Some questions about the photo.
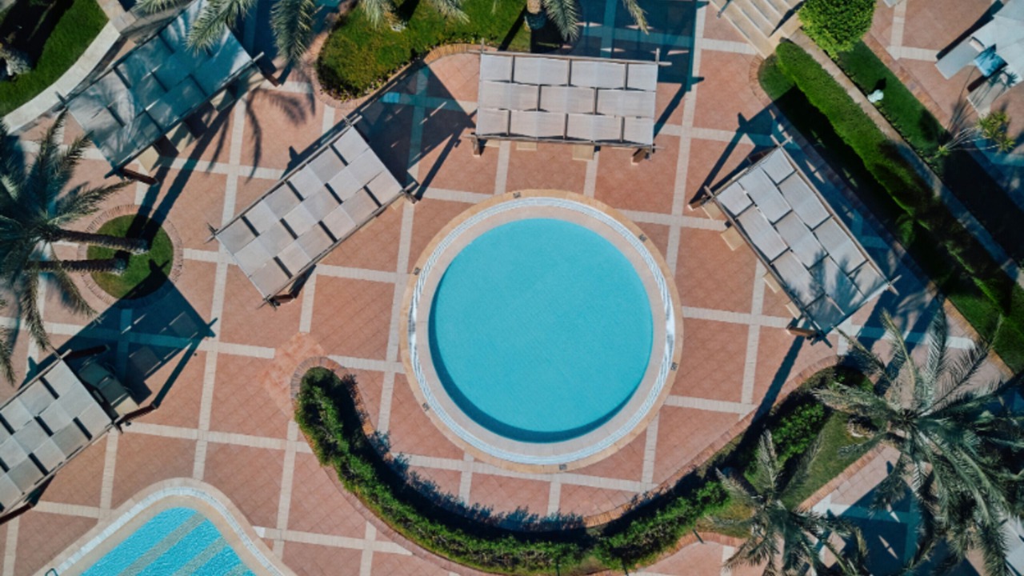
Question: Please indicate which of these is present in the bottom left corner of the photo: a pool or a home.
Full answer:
There is a pool in the bottom left corner of the photo.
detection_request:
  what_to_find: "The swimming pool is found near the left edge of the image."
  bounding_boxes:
[28,478,301,576]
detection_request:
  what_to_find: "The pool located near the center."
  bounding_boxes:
[400,190,683,473]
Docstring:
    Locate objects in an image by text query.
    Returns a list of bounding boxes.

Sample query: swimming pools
[400,190,683,473]
[28,478,301,576]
